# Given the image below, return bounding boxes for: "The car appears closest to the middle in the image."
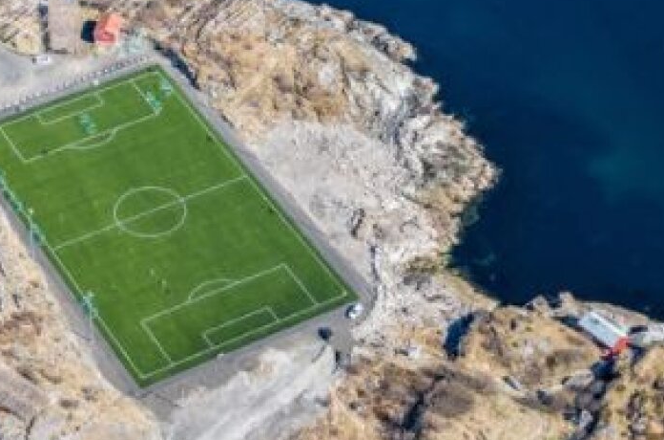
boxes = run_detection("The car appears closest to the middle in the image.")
[349,306,362,319]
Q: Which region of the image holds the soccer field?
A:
left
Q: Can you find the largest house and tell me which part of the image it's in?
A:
bottom right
